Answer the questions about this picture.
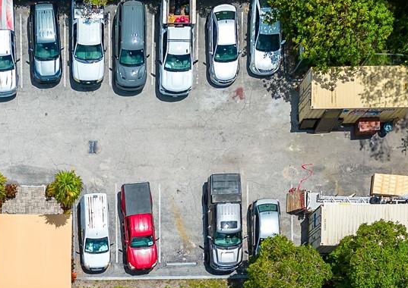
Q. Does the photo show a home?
No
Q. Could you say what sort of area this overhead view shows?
parking lot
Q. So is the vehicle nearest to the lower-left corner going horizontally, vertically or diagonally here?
vertically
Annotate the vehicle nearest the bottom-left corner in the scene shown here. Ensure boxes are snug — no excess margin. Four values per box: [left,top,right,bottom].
[78,190,114,274]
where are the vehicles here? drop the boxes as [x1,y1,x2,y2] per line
[78,190,114,274]
[111,2,149,92]
[70,0,108,87]
[158,0,198,98]
[205,7,242,89]
[27,1,64,85]
[0,0,19,100]
[121,180,160,273]
[248,0,287,76]
[248,201,283,280]
[205,171,247,275]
